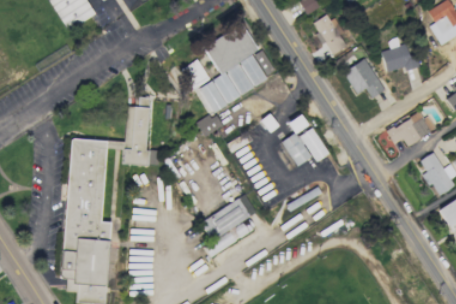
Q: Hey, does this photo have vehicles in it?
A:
Yes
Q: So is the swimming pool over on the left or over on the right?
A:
right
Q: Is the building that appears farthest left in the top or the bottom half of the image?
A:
top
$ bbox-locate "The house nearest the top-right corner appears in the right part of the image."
[430,0,456,46]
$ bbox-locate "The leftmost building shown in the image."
[50,0,96,28]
